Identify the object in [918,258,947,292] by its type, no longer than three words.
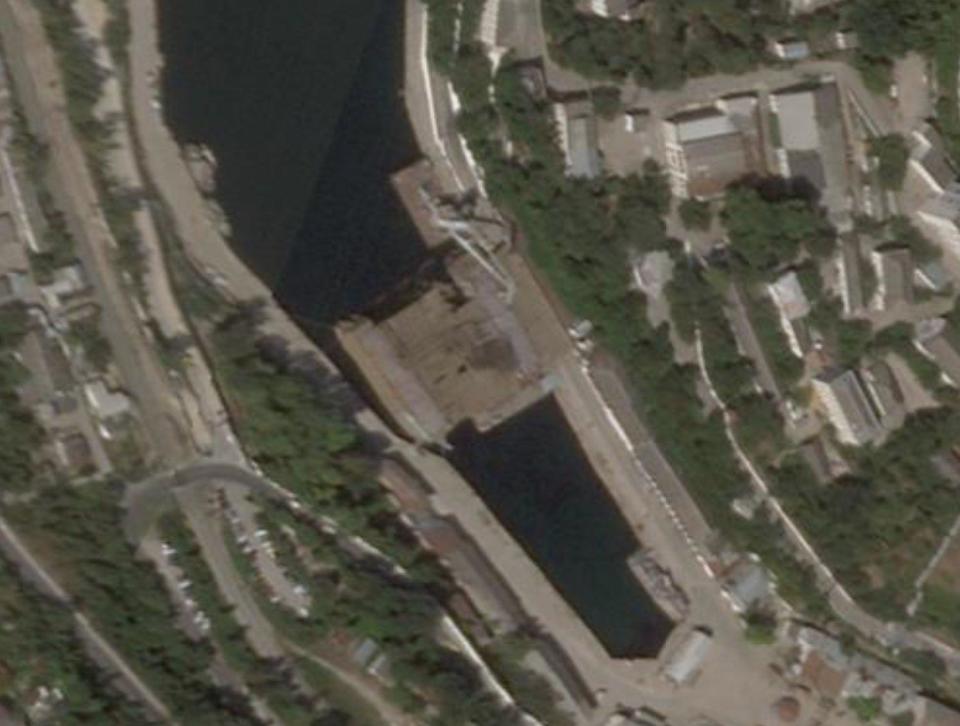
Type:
house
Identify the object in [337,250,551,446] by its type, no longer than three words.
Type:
pier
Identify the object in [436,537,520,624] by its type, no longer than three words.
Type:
building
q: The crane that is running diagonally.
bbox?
[416,186,515,296]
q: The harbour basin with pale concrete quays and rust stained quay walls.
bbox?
[129,0,806,726]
